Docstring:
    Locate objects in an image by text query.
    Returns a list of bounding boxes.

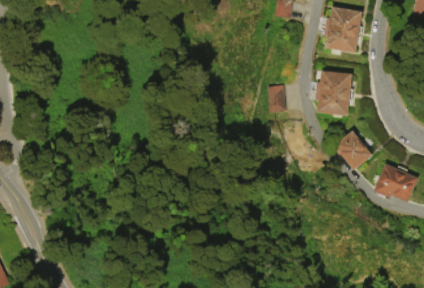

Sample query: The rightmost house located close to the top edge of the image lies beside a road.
[322,6,362,54]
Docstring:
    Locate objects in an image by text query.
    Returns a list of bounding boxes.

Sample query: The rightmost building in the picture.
[374,164,418,203]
